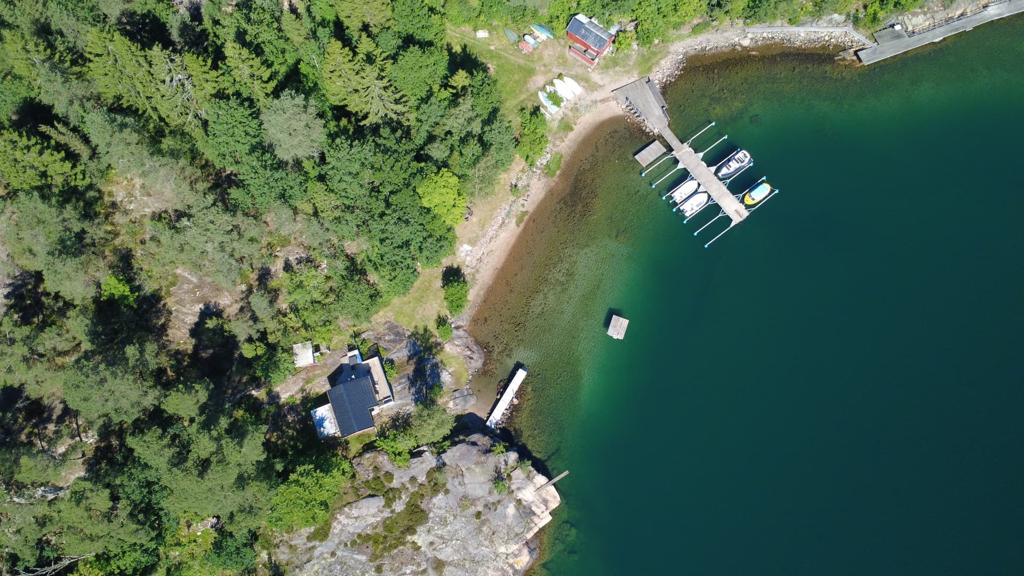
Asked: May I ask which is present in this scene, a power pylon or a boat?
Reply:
boat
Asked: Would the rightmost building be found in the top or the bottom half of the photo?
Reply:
top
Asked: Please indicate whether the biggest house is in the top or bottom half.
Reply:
bottom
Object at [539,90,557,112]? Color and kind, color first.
white boat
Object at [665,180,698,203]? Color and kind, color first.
white boat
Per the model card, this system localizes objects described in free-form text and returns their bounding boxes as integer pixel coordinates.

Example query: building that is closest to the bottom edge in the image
[312,375,379,437]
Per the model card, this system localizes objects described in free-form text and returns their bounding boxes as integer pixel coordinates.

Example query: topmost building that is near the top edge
[567,11,615,71]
